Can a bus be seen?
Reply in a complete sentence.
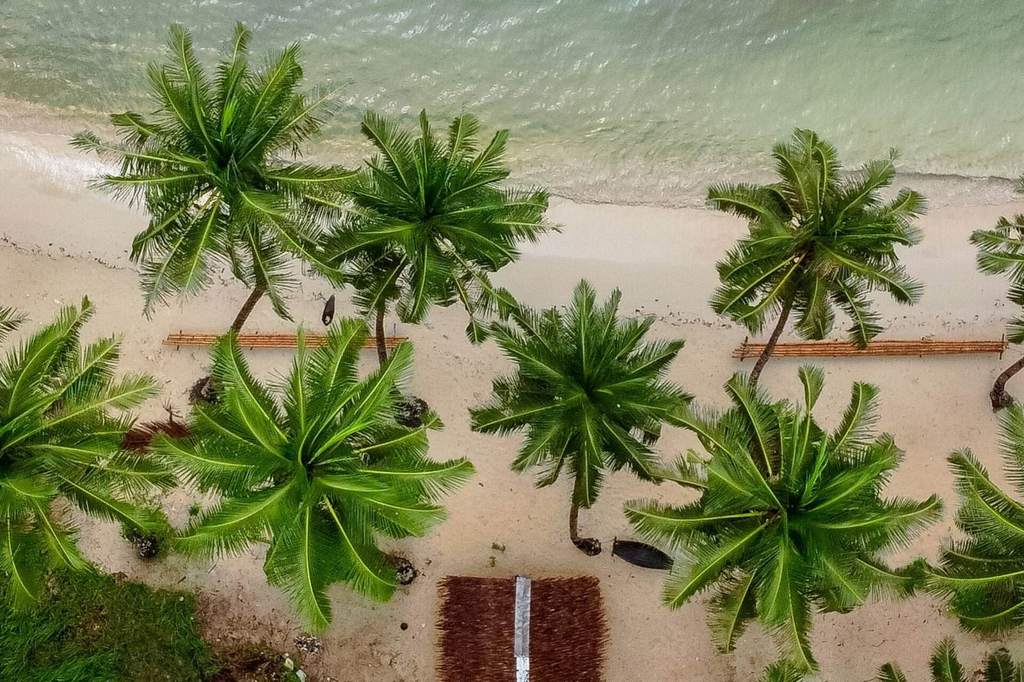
No, I find no bus anywhere in the image.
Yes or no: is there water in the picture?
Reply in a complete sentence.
Yes, water can be seen from above here.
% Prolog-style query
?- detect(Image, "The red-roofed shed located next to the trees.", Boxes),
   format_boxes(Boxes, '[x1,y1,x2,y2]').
[429,569,613,682]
